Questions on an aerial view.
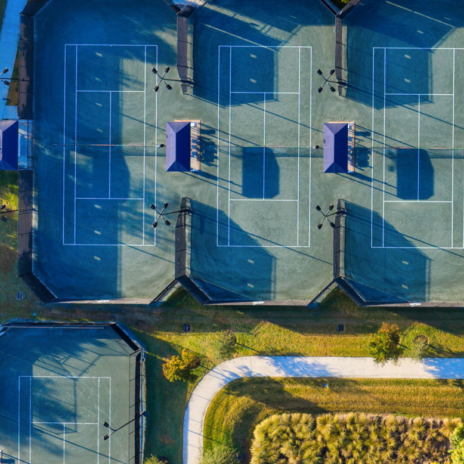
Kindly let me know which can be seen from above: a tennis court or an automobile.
tennis court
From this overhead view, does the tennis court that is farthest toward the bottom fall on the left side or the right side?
left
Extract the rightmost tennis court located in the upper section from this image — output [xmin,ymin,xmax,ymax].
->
[341,0,464,303]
